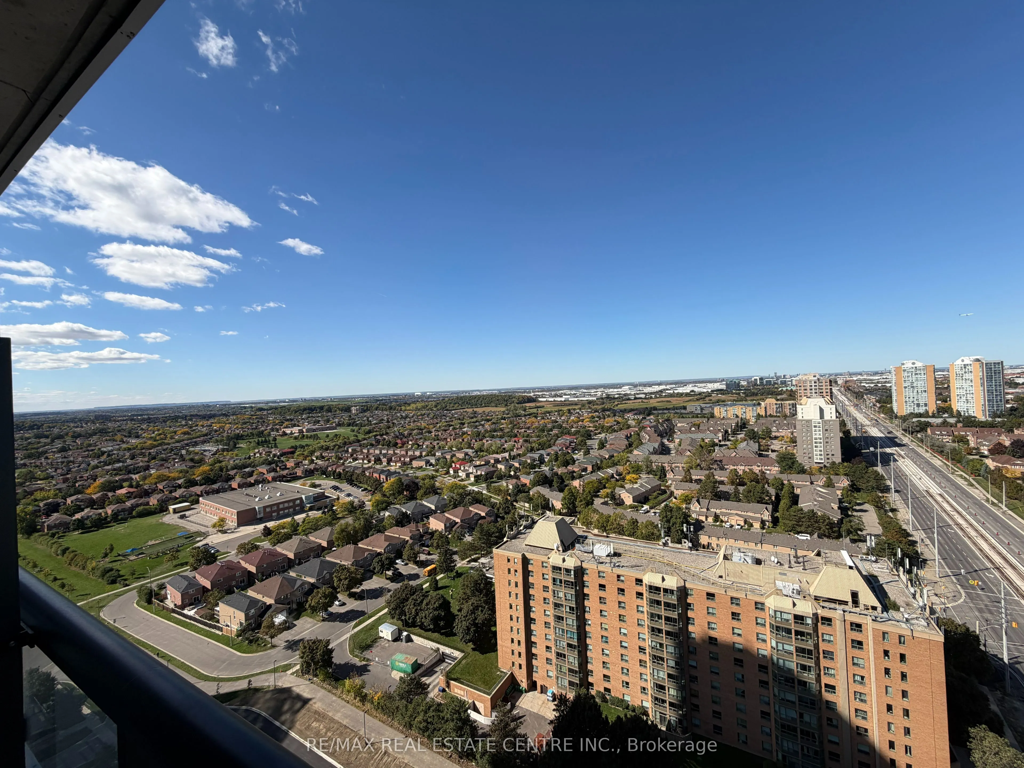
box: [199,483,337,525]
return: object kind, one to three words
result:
building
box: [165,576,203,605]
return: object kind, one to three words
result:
house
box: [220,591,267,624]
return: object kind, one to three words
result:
house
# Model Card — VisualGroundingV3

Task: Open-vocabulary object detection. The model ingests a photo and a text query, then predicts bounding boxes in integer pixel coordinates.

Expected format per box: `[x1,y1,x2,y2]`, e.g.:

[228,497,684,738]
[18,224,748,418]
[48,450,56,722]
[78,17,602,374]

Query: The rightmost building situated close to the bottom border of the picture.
[490,502,952,768]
